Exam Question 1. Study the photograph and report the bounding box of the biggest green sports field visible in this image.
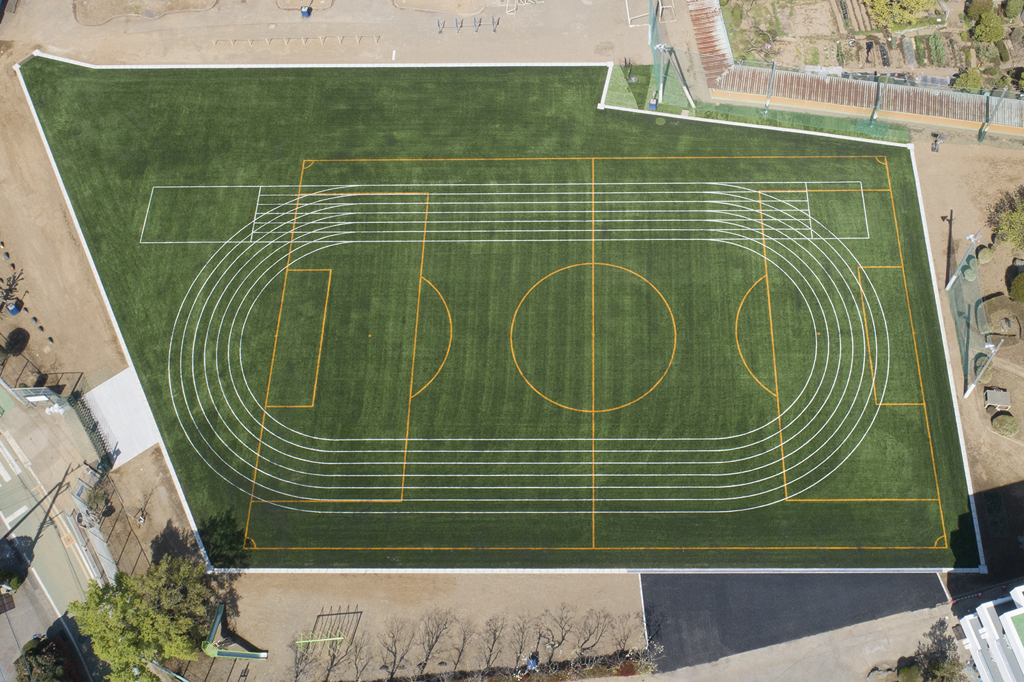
[19,54,980,567]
